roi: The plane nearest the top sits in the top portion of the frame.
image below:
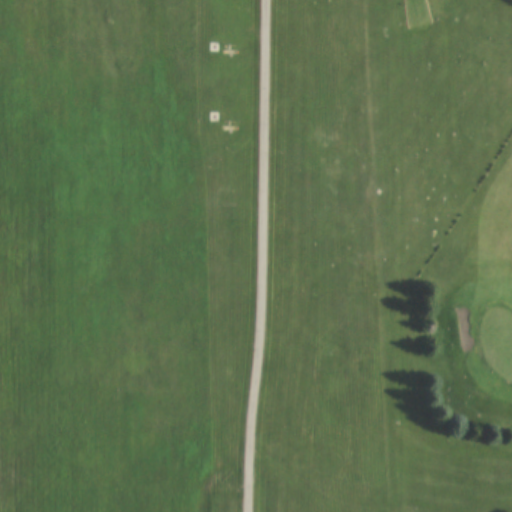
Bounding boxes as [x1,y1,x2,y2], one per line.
[223,44,240,58]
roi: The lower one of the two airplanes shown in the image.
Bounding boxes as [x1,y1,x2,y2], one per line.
[223,120,239,134]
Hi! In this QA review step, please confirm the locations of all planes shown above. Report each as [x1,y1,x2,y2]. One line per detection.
[223,120,239,134]
[223,44,240,58]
